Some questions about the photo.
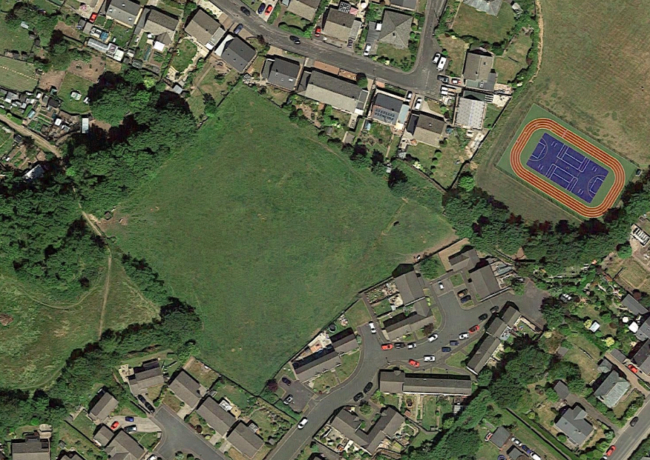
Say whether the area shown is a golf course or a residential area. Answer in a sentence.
It's a residential area.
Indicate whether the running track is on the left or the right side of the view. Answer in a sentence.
The running track sits on the right side.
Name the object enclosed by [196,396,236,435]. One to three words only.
house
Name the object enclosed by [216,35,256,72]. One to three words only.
house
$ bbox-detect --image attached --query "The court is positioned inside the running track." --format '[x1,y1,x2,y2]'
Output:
[526,133,609,202]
